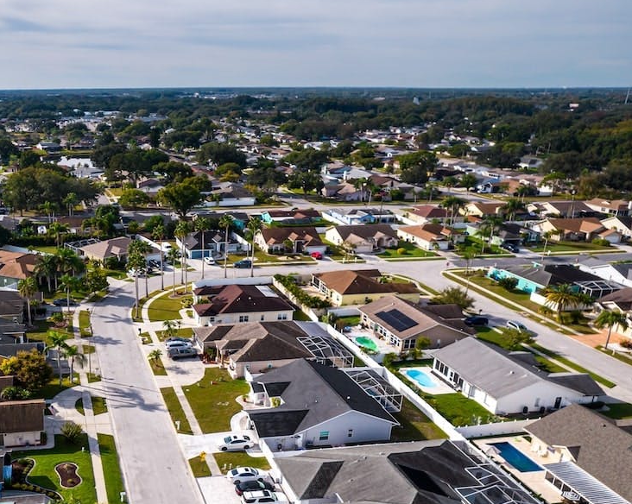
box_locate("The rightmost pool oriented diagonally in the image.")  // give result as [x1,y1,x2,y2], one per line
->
[485,439,538,474]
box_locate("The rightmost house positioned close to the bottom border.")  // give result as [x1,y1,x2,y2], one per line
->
[523,410,632,504]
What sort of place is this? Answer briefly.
residential area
